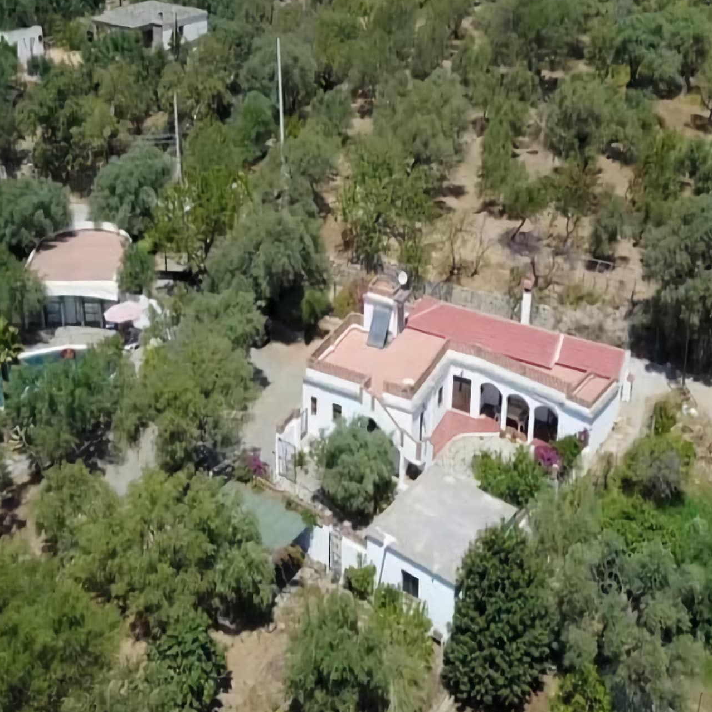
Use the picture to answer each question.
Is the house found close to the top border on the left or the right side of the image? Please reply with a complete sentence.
The house found close to the top border sits on the left side.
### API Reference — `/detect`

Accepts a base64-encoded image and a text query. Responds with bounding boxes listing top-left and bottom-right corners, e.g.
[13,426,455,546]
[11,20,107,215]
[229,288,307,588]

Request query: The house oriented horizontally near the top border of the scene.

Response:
[91,1,206,53]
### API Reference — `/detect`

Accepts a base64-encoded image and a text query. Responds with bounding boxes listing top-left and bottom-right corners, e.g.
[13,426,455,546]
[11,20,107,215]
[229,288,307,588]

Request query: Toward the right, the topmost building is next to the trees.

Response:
[301,279,633,492]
